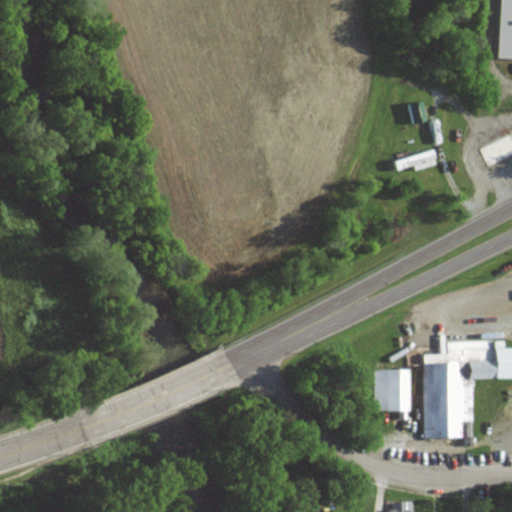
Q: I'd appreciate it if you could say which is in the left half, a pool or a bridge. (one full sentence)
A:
The feature located in the left half is a bridge.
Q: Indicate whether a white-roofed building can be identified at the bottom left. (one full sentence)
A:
No, there is no white-roofed building at the bottom left.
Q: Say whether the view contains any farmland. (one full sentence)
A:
Yes, there is farmland in the image.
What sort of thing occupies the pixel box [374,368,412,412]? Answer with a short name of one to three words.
shed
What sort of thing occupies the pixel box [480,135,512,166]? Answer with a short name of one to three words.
building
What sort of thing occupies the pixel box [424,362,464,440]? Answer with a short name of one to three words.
barn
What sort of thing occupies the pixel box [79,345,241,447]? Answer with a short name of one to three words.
bridge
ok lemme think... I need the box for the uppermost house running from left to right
[394,148,437,172]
